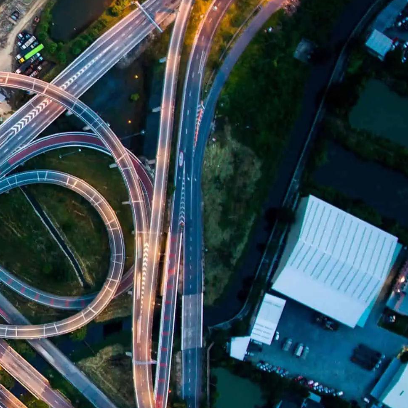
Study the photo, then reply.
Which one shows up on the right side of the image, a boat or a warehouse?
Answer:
warehouse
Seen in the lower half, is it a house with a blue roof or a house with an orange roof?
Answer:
house with a blue roof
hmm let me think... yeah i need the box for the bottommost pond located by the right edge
[316,153,408,237]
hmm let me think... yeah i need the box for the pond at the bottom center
[215,366,265,408]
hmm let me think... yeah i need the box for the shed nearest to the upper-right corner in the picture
[368,0,408,32]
